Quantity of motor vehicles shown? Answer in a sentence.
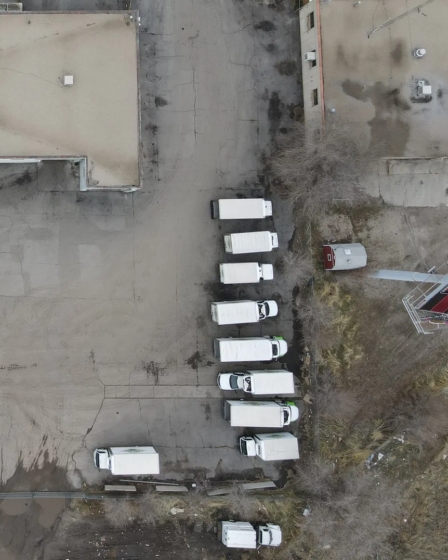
My tally gives 10 motor vehicles in this view.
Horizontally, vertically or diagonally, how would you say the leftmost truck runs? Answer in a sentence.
From this overhead view, the leftmost truck appears to run horizontally.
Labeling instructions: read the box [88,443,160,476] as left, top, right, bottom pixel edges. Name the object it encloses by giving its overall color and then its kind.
white truck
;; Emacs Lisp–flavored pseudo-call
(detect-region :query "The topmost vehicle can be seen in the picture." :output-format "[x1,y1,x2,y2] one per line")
[203,198,270,221]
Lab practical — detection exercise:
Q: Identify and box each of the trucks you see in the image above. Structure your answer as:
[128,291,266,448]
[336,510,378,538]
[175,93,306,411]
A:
[204,518,279,548]
[232,431,299,461]
[203,198,270,221]
[215,260,268,284]
[88,443,160,476]
[218,398,295,427]
[222,229,276,253]
[208,334,285,362]
[207,367,295,396]
[209,298,272,324]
